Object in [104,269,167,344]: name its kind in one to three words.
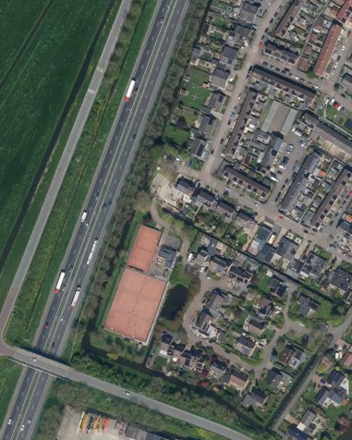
tennis court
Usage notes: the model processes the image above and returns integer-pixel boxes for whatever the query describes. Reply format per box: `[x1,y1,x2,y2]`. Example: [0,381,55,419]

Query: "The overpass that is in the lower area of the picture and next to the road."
[21,349,88,385]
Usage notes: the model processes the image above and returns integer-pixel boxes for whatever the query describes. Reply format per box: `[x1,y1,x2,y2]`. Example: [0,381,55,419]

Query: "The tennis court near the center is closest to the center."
[126,224,162,273]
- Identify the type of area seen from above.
residential area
